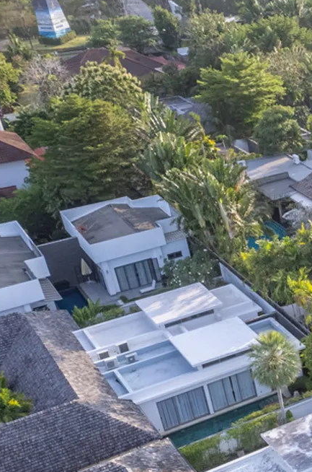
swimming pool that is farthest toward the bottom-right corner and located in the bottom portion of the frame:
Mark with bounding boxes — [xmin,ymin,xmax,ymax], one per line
[163,390,302,451]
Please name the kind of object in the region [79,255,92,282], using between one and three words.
umbrella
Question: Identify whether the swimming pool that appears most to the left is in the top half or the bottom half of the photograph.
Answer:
bottom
